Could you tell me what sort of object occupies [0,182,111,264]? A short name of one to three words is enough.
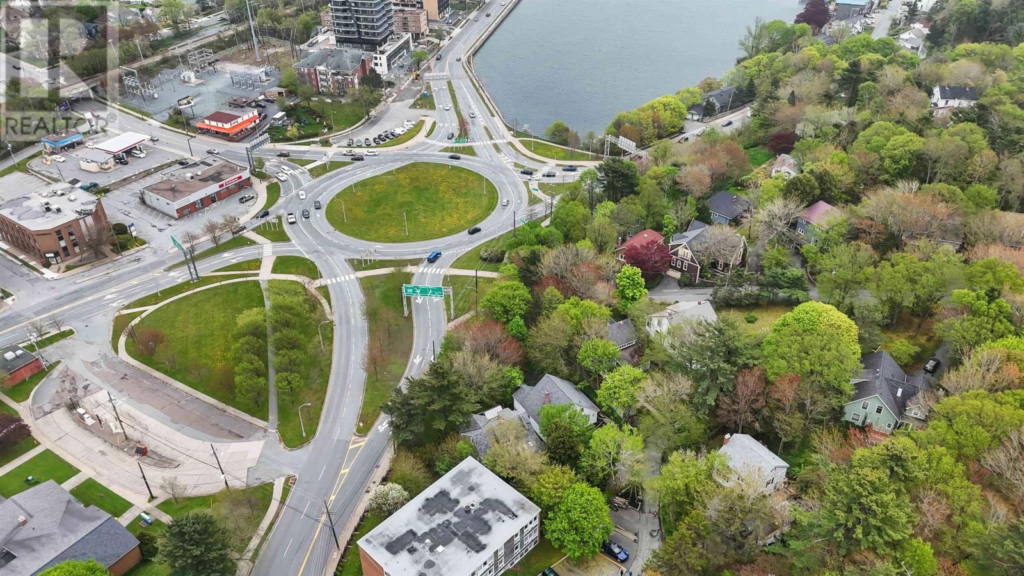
building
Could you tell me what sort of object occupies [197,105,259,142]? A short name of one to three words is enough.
building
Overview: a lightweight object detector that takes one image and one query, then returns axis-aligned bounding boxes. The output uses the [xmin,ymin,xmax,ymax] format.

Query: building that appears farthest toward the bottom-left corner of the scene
[0,478,147,576]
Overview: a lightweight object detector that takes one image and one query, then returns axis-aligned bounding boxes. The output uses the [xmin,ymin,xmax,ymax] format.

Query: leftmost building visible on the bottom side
[0,345,42,387]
